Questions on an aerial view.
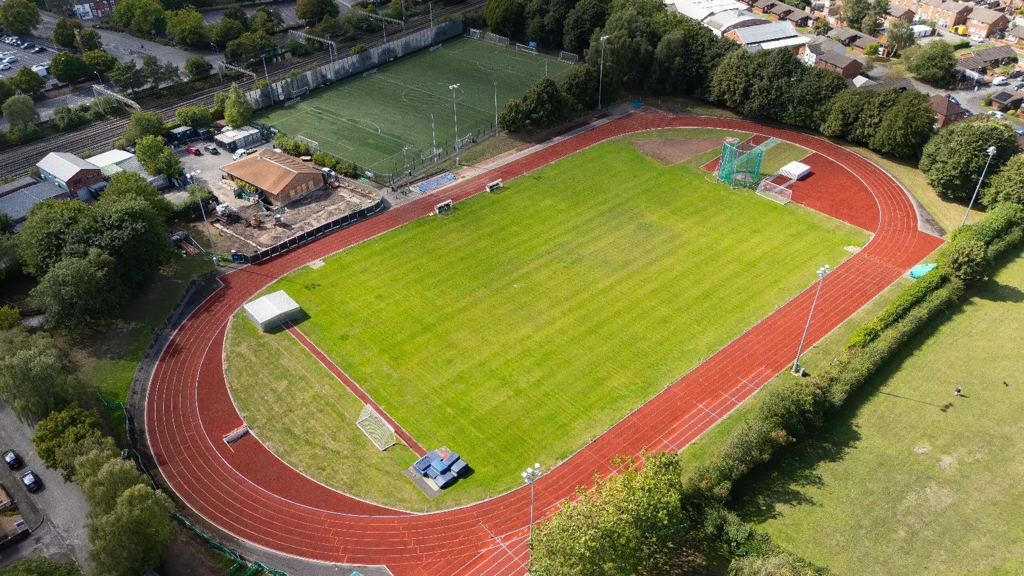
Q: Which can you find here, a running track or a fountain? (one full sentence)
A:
This aerial view contains a running track.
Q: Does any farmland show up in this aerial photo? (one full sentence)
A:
No, there is no farmland in the image.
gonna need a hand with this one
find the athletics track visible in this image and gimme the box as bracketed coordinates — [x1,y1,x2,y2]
[146,116,917,565]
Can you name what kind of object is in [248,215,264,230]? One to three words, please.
vehicle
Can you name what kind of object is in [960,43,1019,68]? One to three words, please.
house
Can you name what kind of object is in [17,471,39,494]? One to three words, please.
car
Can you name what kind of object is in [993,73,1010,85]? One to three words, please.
vehicle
